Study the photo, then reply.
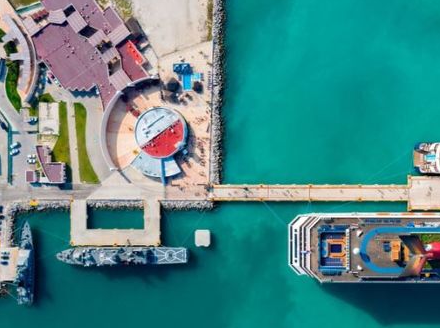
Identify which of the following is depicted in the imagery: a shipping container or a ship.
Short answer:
ship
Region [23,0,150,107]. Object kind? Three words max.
building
